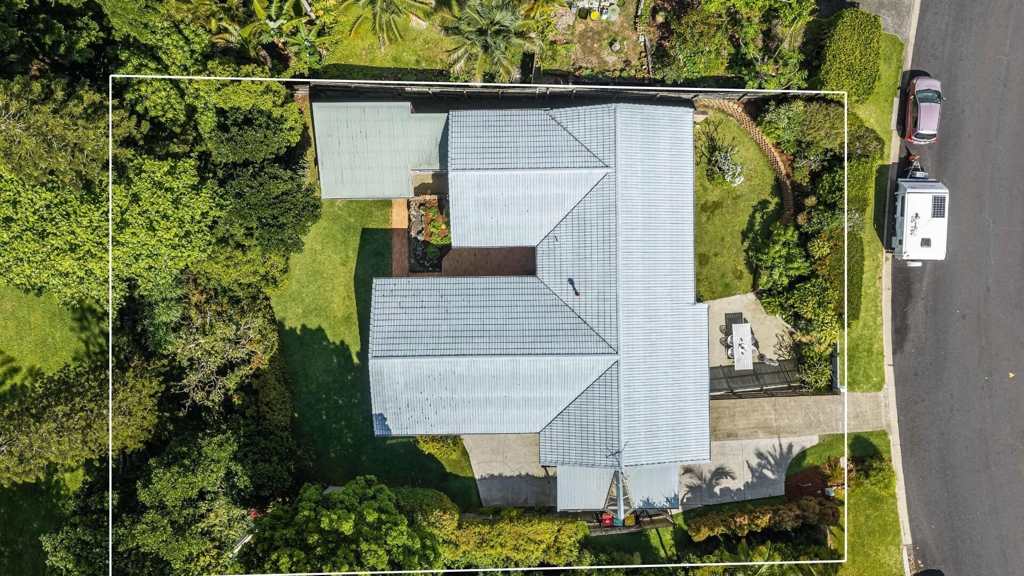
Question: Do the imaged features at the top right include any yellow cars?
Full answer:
No, the scene shows no yellow car at the top right.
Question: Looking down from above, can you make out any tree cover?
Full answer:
Yes, there is tree cover in the image.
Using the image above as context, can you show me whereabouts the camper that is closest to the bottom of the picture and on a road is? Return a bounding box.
[888,158,947,265]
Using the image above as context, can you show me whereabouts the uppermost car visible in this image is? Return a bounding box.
[901,76,946,146]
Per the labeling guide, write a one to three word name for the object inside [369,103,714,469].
house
